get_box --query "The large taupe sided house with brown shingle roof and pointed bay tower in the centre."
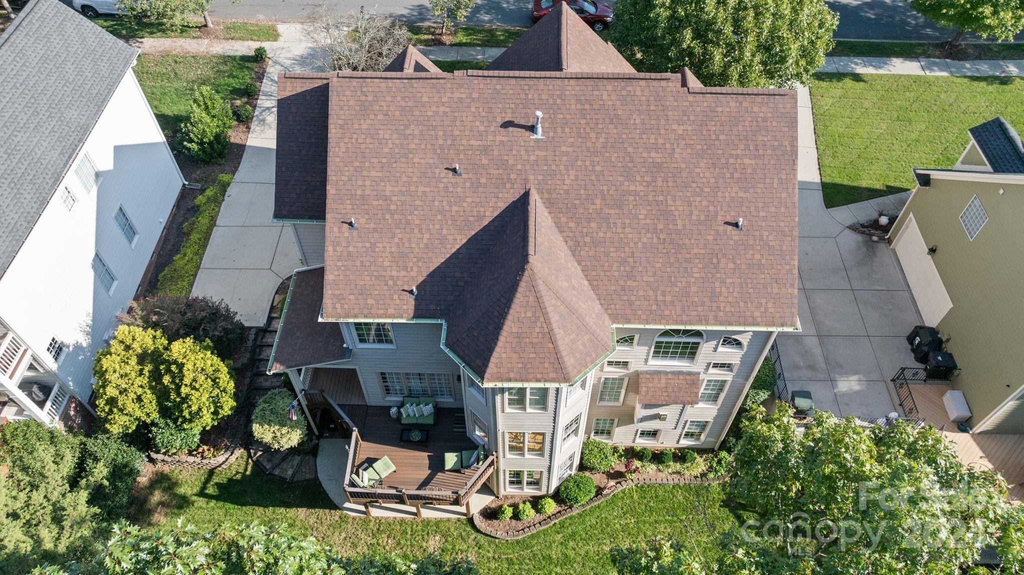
[265,0,800,499]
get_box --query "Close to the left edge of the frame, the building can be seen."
[0,0,198,434]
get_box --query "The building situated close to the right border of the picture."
[883,113,1024,434]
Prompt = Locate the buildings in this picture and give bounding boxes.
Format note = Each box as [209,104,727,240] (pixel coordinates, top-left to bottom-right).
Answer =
[265,0,800,499]
[0,0,198,434]
[883,113,1024,434]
